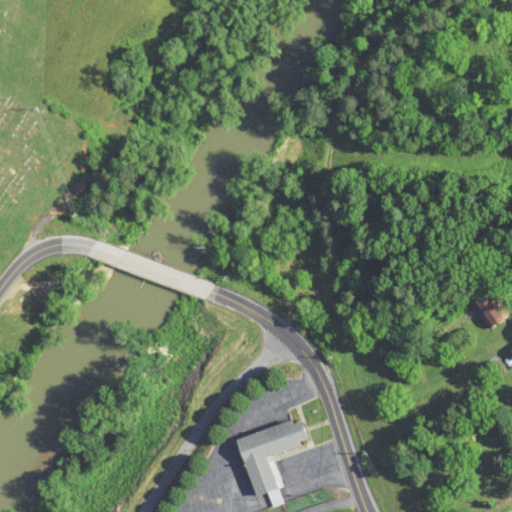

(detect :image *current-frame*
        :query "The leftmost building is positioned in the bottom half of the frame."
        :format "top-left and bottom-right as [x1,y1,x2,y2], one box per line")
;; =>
[236,418,306,508]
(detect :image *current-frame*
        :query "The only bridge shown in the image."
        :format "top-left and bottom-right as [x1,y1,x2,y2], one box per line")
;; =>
[88,241,214,299]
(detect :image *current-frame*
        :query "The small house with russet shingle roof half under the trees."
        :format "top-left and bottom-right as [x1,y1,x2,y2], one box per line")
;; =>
[478,298,510,330]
